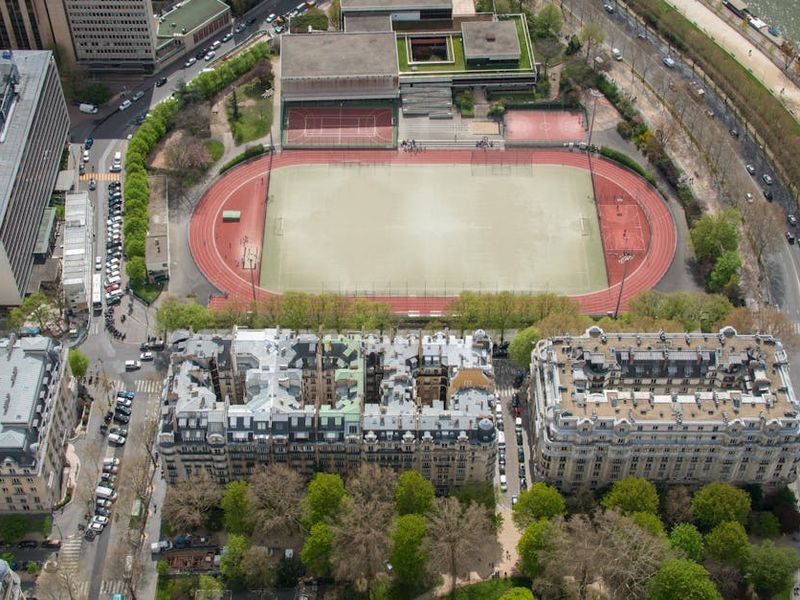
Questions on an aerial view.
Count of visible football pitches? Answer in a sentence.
My tally gives 1 football pitch in this photo.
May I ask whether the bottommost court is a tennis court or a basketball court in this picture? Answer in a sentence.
I'd identify the bottommost court as a basketball court.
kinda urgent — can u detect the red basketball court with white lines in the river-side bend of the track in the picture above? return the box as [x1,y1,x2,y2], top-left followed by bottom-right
[597,202,648,254]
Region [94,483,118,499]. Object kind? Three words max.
vehicle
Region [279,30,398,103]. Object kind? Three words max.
building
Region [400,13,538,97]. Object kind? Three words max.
building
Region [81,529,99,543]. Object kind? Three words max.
car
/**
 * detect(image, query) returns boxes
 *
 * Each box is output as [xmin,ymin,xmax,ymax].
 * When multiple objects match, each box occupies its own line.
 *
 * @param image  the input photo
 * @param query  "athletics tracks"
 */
[190,147,675,320]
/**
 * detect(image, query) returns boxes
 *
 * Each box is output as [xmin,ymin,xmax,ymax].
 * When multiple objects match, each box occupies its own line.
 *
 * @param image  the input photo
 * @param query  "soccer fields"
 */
[258,166,601,296]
